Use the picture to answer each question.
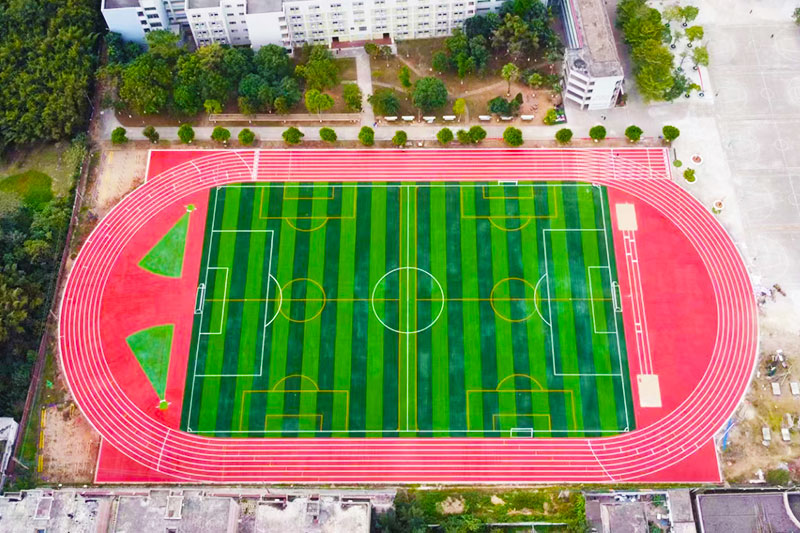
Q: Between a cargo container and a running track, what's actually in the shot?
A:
running track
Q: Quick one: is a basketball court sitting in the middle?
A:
No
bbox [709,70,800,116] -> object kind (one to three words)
basketball court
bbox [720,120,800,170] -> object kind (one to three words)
basketball court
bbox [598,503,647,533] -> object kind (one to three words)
house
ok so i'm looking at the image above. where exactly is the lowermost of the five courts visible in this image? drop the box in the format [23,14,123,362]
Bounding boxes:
[741,228,800,286]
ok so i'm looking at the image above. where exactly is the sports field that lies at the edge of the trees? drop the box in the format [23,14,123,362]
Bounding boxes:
[180,181,638,437]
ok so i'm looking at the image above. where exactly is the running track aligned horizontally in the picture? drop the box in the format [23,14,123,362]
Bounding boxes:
[59,148,756,482]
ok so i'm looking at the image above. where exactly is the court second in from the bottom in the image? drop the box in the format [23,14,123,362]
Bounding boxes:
[730,172,800,227]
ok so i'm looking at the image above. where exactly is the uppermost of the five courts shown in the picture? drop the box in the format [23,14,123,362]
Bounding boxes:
[700,23,800,68]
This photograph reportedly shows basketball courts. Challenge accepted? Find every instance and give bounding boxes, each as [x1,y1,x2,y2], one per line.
[741,228,800,286]
[720,120,800,170]
[709,70,800,116]
[730,172,800,227]
[700,23,800,68]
